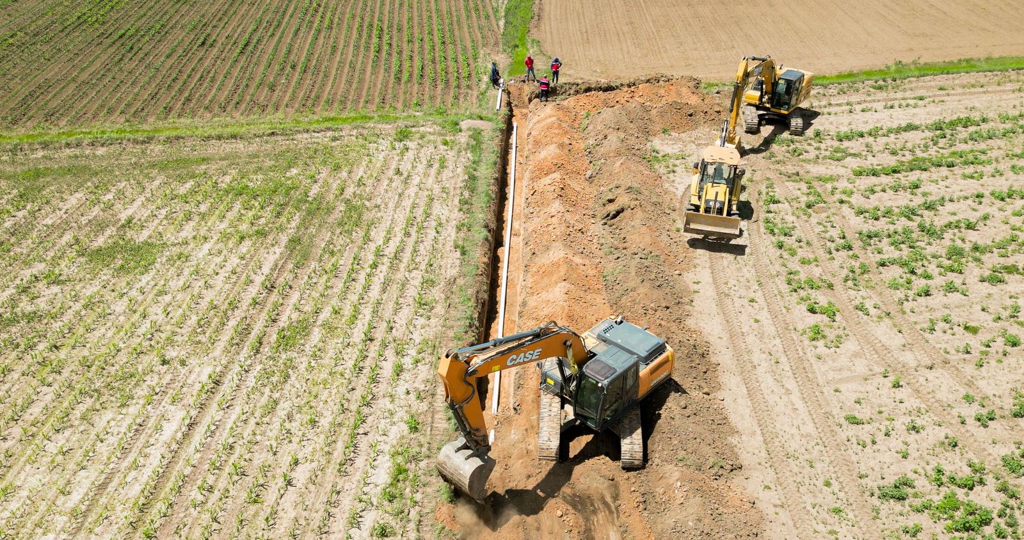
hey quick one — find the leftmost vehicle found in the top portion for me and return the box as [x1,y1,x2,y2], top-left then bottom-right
[685,142,744,238]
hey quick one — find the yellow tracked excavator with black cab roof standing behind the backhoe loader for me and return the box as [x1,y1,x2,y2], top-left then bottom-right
[709,48,802,144]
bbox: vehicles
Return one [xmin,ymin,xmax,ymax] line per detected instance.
[685,142,744,238]
[709,48,802,144]
[436,308,673,509]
